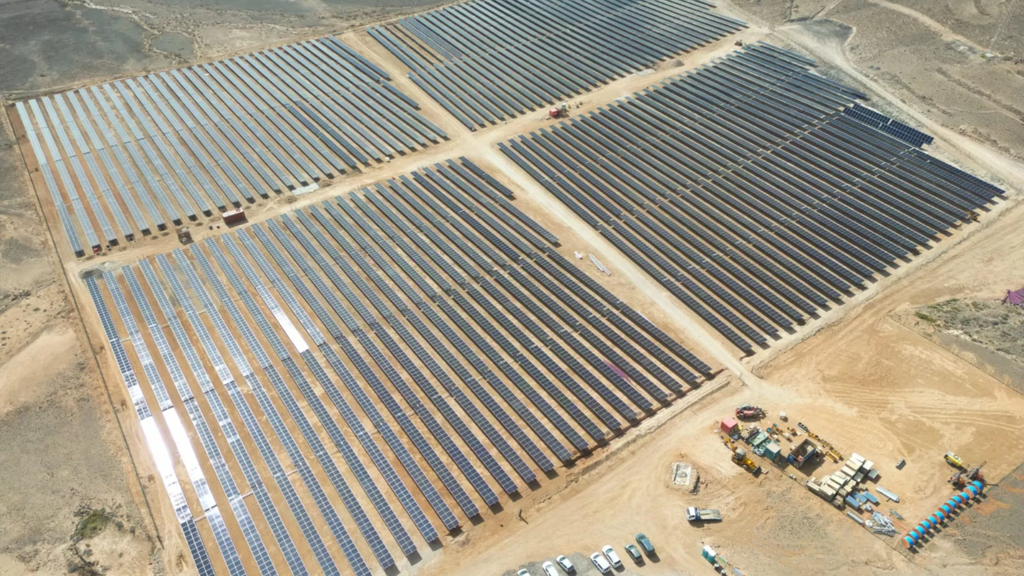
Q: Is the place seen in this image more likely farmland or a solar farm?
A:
solar farm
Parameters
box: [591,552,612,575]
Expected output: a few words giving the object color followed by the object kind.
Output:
white car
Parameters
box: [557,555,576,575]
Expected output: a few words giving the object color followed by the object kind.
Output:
white car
